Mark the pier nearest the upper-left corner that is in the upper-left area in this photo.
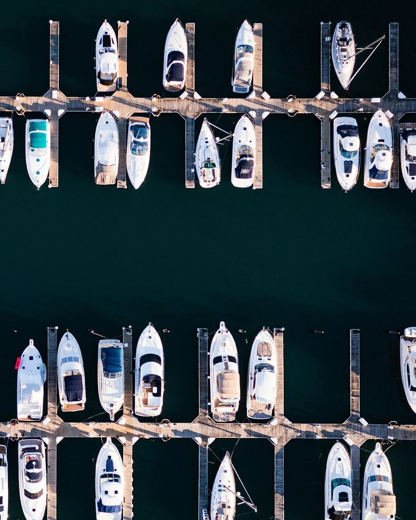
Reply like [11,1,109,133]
[42,19,68,96]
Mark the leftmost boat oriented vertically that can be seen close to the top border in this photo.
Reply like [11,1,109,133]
[95,20,117,92]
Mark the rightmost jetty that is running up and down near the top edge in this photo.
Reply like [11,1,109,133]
[381,22,400,98]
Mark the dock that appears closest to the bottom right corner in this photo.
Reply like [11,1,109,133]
[343,439,369,520]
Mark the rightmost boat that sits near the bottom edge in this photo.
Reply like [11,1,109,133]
[359,442,396,520]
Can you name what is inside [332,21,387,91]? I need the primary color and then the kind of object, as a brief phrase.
white boat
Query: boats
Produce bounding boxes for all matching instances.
[126,116,150,190]
[95,20,117,92]
[195,116,233,188]
[211,452,257,520]
[0,445,8,520]
[359,442,396,520]
[97,339,125,422]
[231,113,257,187]
[397,122,416,191]
[232,18,256,93]
[363,107,395,189]
[245,329,278,419]
[332,21,387,91]
[392,336,416,413]
[163,18,189,92]
[17,339,45,421]
[19,439,47,520]
[95,111,119,184]
[209,321,240,422]
[94,436,124,520]
[0,117,15,184]
[25,119,51,188]
[404,327,416,337]
[331,117,360,193]
[322,442,353,520]
[135,322,165,415]
[57,330,86,411]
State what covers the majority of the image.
water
